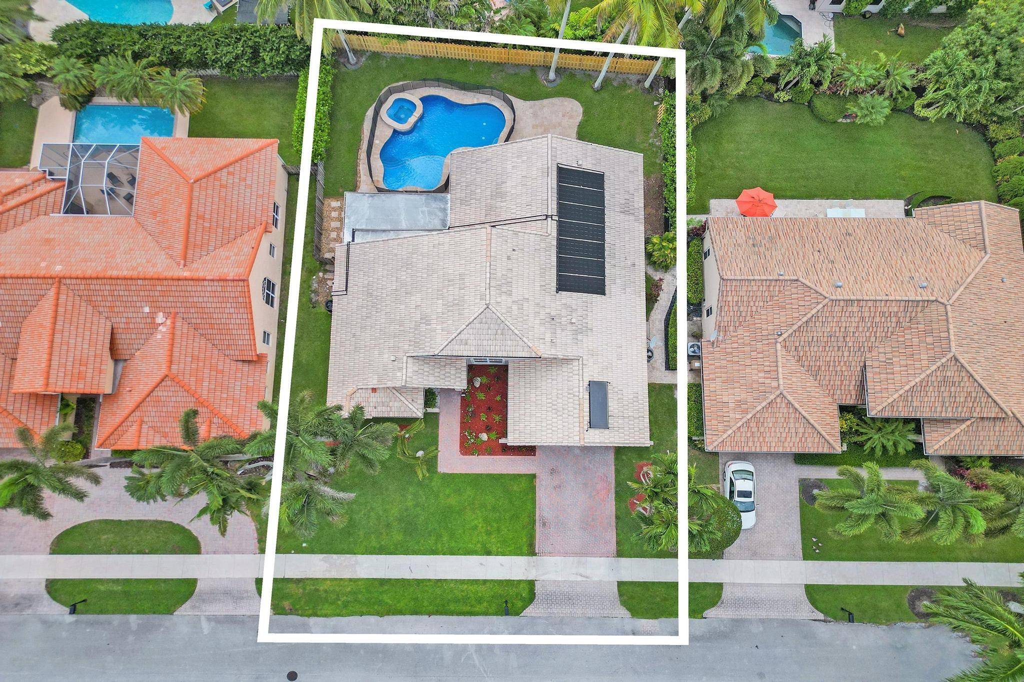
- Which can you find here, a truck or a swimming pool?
swimming pool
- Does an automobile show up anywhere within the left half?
No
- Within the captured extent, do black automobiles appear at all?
No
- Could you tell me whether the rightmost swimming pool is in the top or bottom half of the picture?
top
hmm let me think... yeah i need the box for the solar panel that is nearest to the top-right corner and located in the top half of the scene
[557,164,607,296]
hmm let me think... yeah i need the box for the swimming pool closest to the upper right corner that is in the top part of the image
[749,9,803,56]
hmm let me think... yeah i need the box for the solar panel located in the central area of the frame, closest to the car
[586,381,613,432]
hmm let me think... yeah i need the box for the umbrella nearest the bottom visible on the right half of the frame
[734,185,774,216]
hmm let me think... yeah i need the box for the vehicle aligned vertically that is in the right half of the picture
[728,461,764,531]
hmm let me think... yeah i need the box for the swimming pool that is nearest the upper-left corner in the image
[70,0,172,24]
